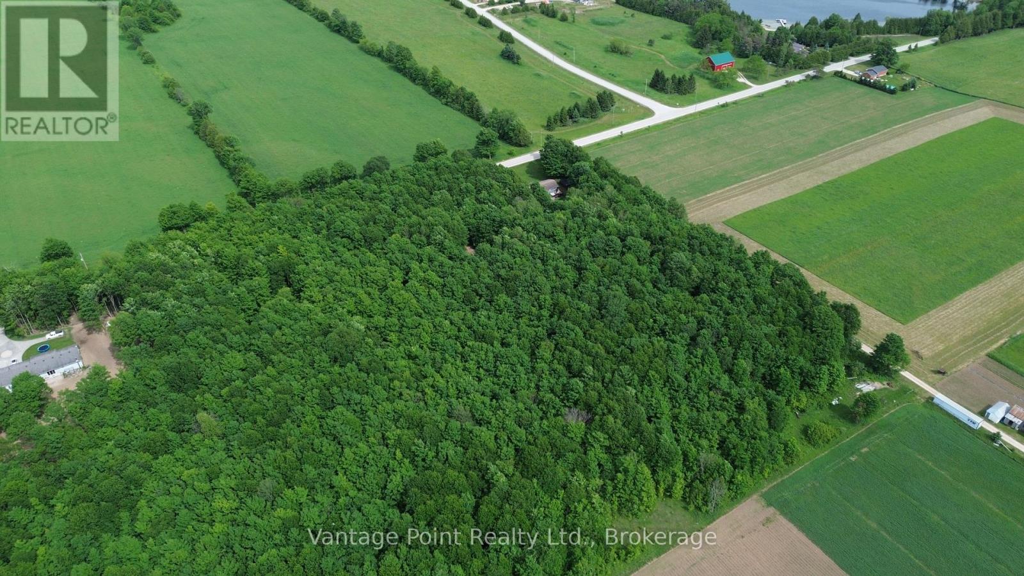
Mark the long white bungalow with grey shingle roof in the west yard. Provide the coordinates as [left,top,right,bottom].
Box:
[0,342,85,389]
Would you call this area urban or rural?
rural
